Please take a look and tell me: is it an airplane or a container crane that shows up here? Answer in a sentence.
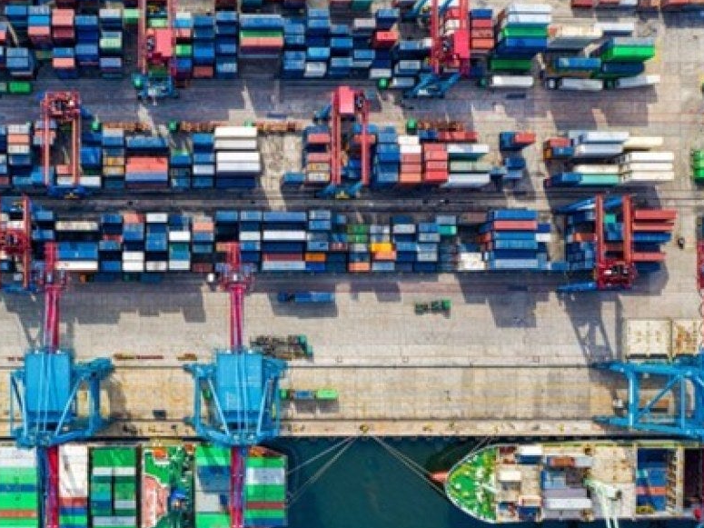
There is a container crane in the scene.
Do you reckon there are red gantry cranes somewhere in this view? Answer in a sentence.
Yes, looking at the shot, I can spot a red gantry crane.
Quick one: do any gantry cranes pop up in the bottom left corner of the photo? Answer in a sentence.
Yes, a gantry crane appears in the bottom left corner of the photo.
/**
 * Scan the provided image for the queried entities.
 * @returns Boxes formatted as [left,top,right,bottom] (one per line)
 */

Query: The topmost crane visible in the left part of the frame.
[136,0,180,99]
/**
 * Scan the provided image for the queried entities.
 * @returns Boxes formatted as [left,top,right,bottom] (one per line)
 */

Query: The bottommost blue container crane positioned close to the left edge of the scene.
[10,242,114,528]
